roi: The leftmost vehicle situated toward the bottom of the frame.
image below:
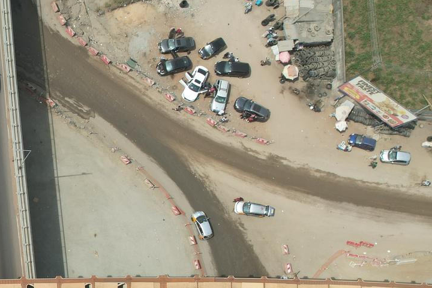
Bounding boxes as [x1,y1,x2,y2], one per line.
[190,210,215,242]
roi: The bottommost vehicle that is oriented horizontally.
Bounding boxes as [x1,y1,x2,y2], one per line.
[233,198,276,218]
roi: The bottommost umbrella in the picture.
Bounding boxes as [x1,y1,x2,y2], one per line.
[330,119,348,132]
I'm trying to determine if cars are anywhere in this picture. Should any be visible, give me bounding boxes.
[182,63,212,104]
[233,198,276,218]
[209,79,232,114]
[213,60,251,79]
[156,30,197,57]
[378,148,412,165]
[190,210,215,242]
[231,98,273,124]
[154,54,194,76]
[197,35,230,61]
[343,133,379,153]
